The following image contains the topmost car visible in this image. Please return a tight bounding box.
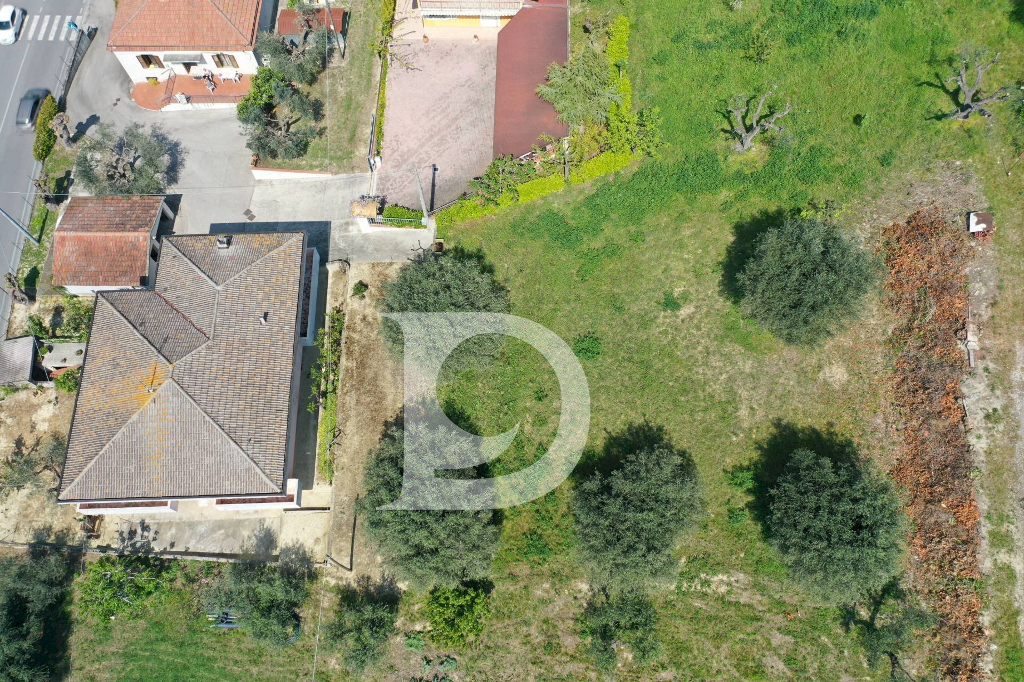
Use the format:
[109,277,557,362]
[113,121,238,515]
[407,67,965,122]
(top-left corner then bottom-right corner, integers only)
[0,8,23,42]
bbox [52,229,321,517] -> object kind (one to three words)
house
